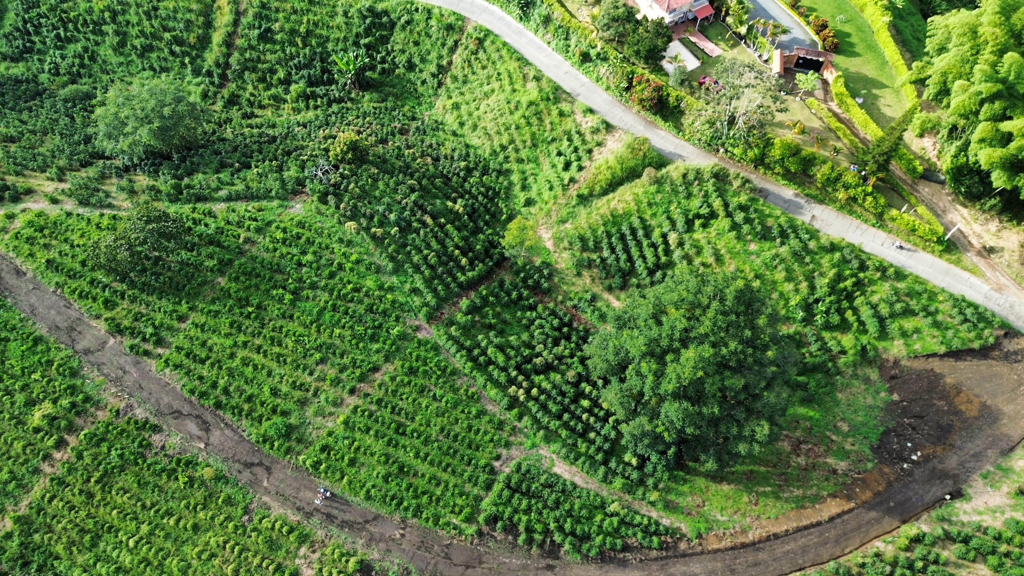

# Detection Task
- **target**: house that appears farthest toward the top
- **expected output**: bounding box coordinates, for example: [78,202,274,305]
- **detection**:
[650,0,714,30]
